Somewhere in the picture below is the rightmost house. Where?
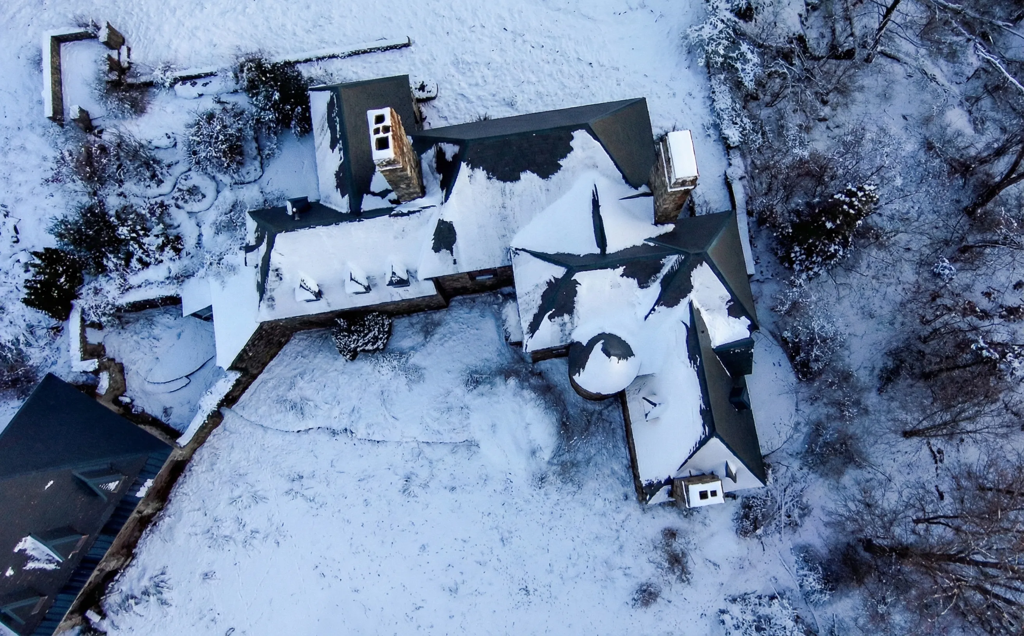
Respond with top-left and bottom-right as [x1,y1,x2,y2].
[181,72,767,509]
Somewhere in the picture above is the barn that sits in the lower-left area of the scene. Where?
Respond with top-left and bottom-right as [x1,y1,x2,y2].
[0,373,198,636]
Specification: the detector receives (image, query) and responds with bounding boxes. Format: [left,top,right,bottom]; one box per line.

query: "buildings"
[0,373,198,636]
[181,72,767,509]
